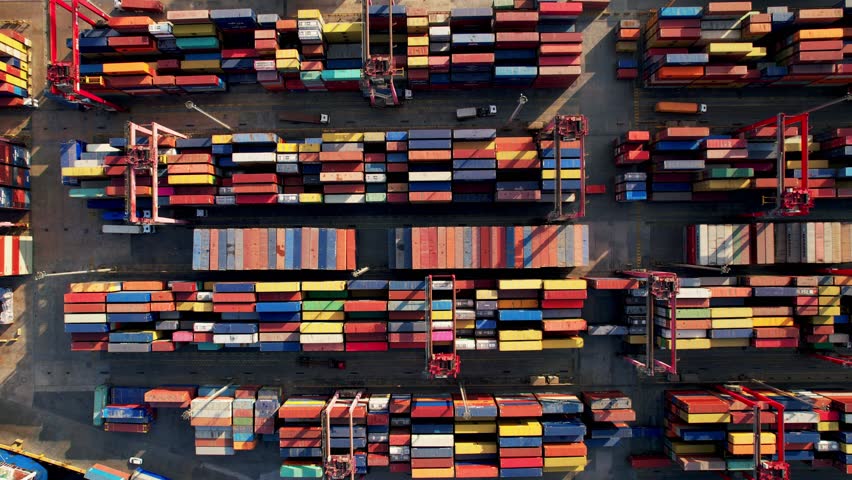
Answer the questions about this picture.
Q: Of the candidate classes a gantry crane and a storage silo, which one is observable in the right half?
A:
gantry crane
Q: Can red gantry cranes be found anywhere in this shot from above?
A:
Yes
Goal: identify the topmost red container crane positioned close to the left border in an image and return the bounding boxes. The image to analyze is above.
[42,0,126,111]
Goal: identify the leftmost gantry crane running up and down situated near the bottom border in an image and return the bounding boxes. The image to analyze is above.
[324,384,369,480]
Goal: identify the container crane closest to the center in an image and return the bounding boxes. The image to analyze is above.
[424,269,462,382]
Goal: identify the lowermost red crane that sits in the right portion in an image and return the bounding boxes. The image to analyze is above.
[710,380,793,480]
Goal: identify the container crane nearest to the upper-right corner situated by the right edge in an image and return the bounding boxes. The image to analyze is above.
[727,109,814,220]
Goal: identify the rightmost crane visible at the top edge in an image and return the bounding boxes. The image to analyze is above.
[360,0,408,109]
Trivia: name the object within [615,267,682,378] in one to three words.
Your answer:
container crane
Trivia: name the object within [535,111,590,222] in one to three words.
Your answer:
container crane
